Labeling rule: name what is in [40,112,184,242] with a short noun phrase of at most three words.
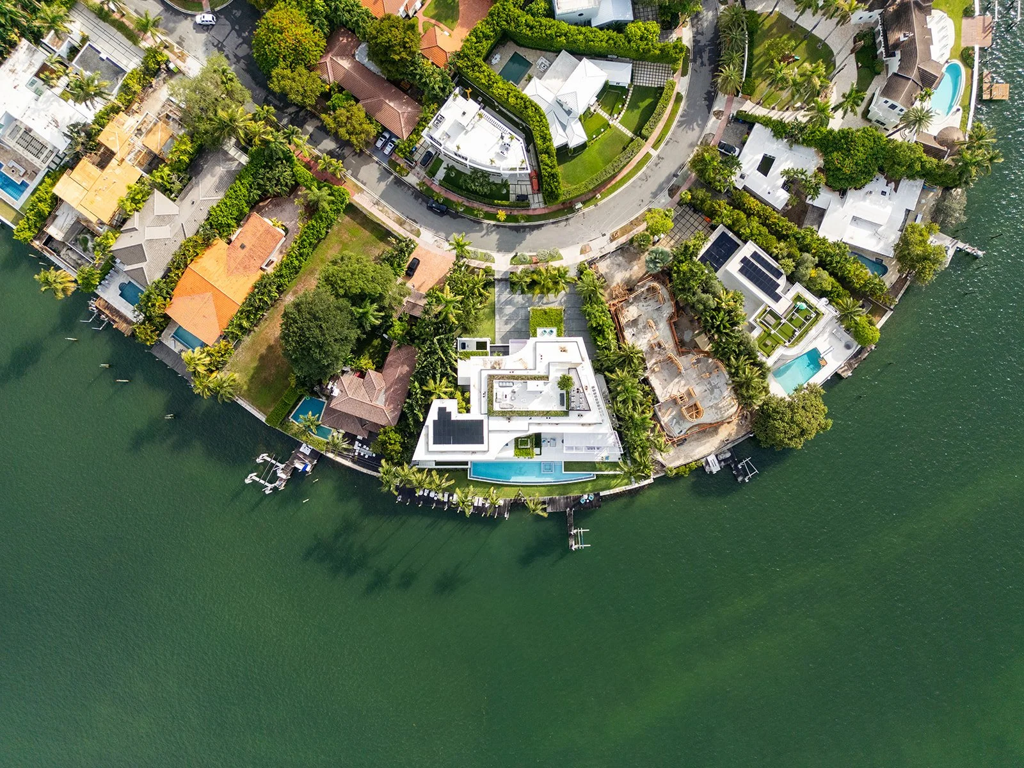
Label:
house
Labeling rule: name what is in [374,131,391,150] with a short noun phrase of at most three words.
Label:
car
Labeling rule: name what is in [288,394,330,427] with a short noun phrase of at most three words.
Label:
swimming pool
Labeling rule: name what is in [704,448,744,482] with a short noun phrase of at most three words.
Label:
pier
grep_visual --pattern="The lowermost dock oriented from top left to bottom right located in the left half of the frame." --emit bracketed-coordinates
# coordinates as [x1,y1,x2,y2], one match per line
[147,341,195,386]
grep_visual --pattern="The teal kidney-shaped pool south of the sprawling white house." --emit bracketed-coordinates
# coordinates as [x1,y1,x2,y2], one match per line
[843,248,890,280]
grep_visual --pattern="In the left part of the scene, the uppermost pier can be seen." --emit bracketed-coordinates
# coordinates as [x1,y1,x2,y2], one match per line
[95,297,133,336]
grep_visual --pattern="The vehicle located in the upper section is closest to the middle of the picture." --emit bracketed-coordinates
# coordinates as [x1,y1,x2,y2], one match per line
[405,256,423,278]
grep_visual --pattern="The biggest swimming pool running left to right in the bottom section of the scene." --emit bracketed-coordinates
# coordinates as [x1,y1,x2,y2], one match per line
[468,461,595,485]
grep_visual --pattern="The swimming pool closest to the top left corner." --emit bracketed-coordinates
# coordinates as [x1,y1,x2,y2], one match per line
[0,161,33,203]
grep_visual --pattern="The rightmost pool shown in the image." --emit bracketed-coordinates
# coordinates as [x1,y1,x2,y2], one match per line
[930,61,964,118]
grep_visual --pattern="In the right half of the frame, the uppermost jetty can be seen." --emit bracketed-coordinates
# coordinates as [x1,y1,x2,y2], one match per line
[961,15,993,51]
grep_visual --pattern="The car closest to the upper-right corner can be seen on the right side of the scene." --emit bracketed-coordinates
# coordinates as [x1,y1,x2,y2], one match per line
[718,140,740,156]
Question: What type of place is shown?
residential area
